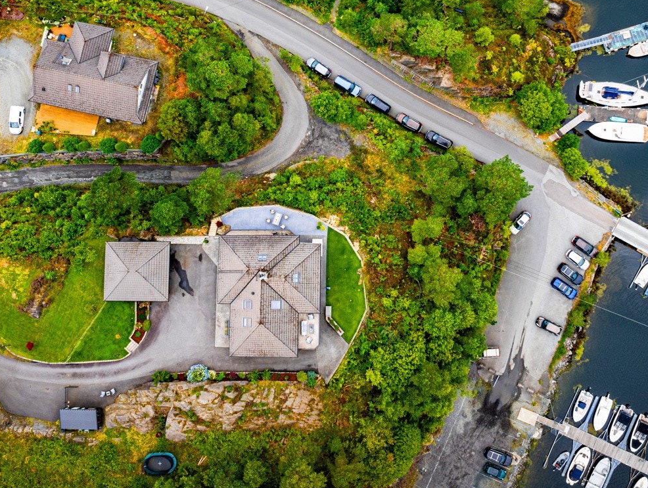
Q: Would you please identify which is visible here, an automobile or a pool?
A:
automobile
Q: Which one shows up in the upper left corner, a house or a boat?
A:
house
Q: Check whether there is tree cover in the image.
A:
Yes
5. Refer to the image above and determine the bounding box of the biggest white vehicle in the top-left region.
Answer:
[7,105,26,135]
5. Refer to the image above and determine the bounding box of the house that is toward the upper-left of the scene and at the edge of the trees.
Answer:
[29,22,160,136]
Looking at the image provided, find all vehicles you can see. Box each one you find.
[547,277,579,302]
[7,105,26,135]
[471,345,502,361]
[332,73,363,97]
[483,445,516,467]
[562,248,594,271]
[424,128,454,150]
[481,459,510,481]
[364,91,393,114]
[306,57,332,77]
[508,208,534,236]
[569,232,601,256]
[555,262,586,286]
[533,315,565,337]
[395,111,425,134]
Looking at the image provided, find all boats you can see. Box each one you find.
[635,265,648,290]
[574,385,594,421]
[633,477,648,488]
[586,458,610,488]
[627,39,648,54]
[552,451,569,474]
[564,447,592,487]
[632,412,648,452]
[611,400,635,442]
[577,78,648,106]
[595,389,615,430]
[587,119,648,140]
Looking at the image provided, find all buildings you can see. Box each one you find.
[61,408,101,429]
[29,22,160,136]
[217,230,322,358]
[103,241,171,301]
